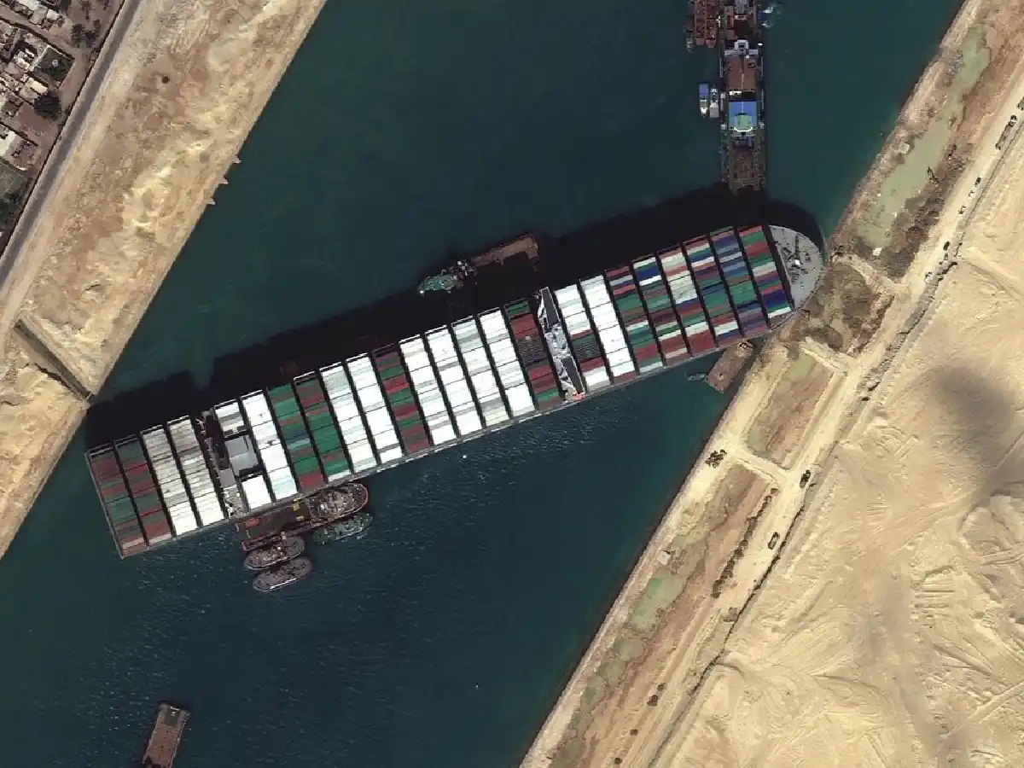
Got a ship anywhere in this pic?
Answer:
Yes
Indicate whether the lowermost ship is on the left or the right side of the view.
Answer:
left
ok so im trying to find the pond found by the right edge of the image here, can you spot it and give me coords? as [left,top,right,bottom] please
[859,31,987,243]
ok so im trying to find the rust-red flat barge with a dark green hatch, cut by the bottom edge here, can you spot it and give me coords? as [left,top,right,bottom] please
[141,704,190,768]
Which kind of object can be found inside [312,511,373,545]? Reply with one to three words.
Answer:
boat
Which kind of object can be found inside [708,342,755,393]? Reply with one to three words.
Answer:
ship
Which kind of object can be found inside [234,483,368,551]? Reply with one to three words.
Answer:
ship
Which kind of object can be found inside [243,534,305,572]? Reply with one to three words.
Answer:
boat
